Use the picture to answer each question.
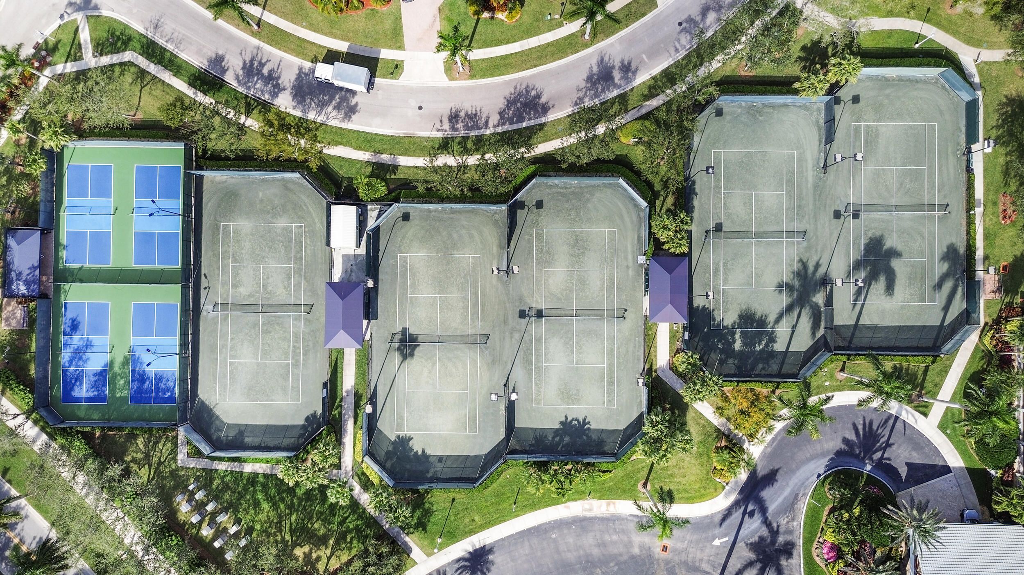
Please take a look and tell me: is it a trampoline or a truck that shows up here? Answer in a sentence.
Visible in the photo is a truck.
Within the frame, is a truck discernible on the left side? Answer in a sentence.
Yes, you'll find a truck on the left side.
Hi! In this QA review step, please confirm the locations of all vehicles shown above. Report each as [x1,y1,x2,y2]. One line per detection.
[316,60,376,92]
[962,509,983,523]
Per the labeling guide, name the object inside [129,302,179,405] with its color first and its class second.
blue sports court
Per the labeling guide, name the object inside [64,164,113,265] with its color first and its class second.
blue sports court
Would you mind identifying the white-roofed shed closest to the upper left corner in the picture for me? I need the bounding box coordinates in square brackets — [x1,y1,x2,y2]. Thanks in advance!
[330,205,361,251]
